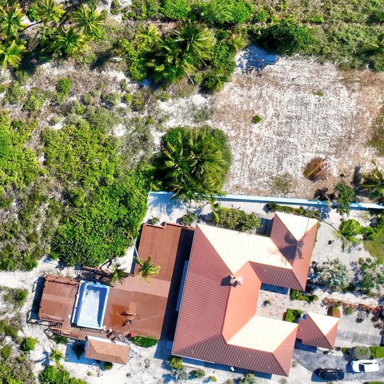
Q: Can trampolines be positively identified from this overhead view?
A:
No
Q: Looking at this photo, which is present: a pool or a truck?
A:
pool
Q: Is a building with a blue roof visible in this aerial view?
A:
No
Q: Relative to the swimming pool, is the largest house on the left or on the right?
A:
right of it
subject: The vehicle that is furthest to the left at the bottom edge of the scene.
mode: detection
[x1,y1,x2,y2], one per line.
[320,369,347,384]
